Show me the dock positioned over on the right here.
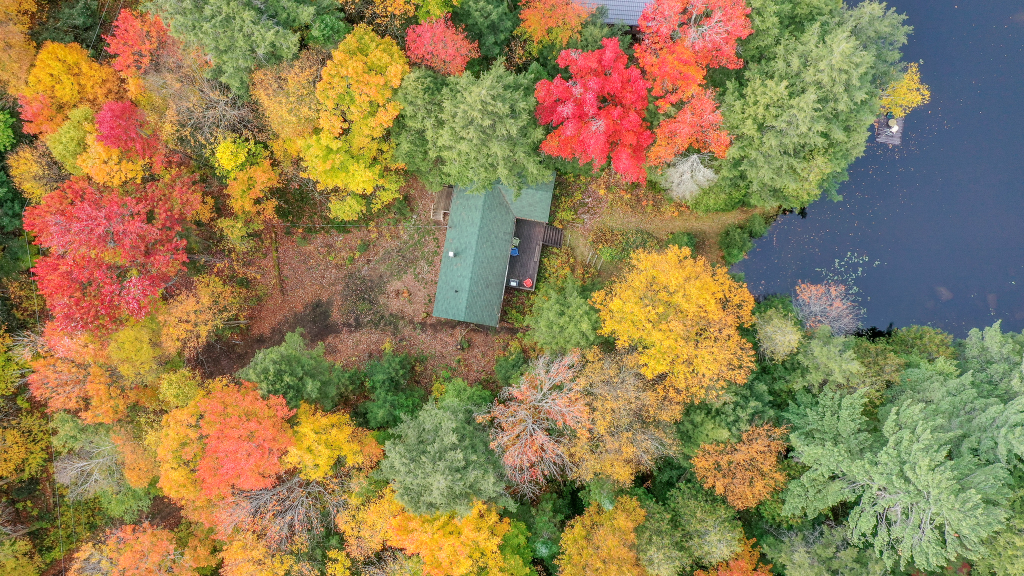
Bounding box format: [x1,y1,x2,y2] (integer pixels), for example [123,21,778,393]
[873,105,905,145]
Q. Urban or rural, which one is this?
rural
